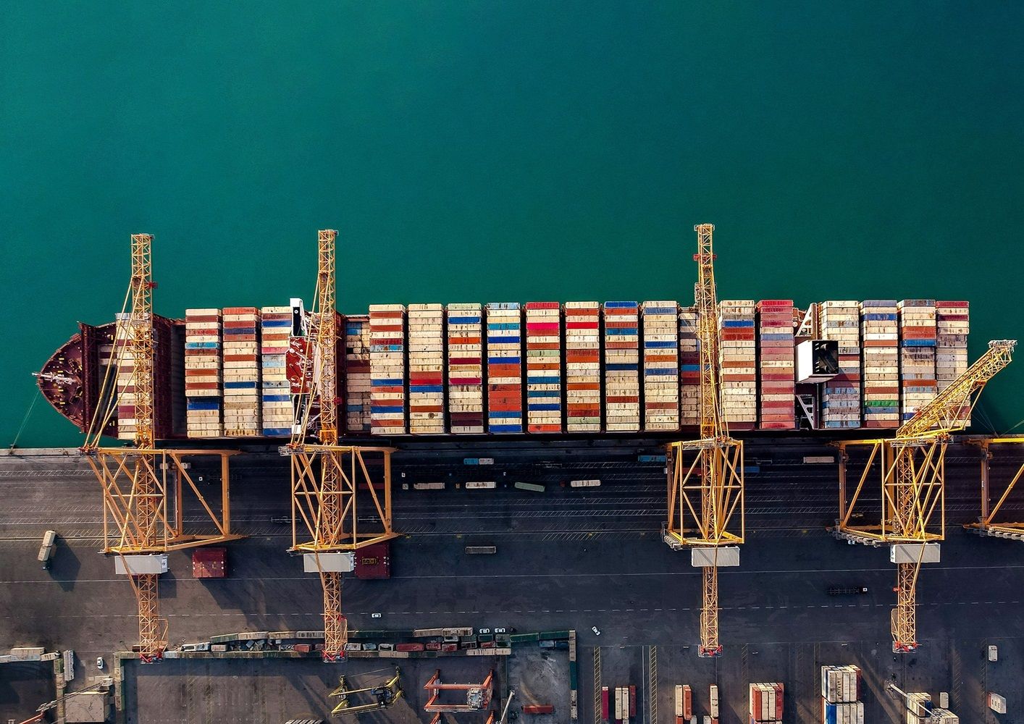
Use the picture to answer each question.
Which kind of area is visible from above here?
port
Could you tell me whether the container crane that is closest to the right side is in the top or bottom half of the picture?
bottom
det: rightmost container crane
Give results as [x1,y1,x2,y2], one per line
[957,436,1024,539]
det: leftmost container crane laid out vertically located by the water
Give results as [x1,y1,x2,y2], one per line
[78,232,254,661]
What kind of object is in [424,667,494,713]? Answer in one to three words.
container crane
